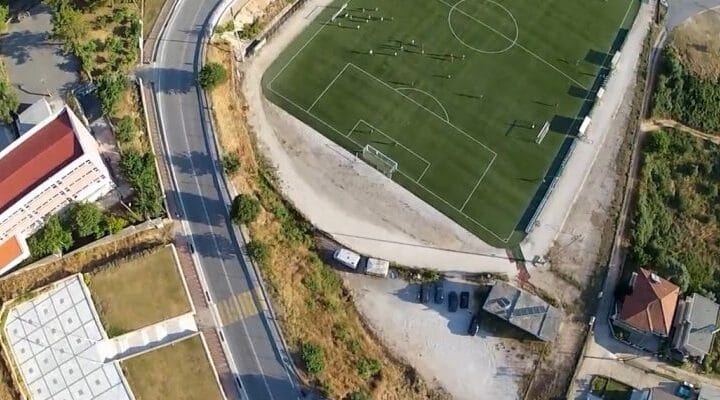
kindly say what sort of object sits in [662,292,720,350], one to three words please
house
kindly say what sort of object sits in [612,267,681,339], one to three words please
house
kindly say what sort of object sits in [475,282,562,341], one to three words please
shed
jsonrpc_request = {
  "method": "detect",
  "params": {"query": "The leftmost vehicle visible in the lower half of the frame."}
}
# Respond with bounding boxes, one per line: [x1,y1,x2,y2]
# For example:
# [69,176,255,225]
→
[335,249,361,269]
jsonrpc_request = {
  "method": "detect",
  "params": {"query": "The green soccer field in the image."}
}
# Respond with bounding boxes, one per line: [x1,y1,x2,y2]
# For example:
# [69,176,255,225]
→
[262,0,641,262]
